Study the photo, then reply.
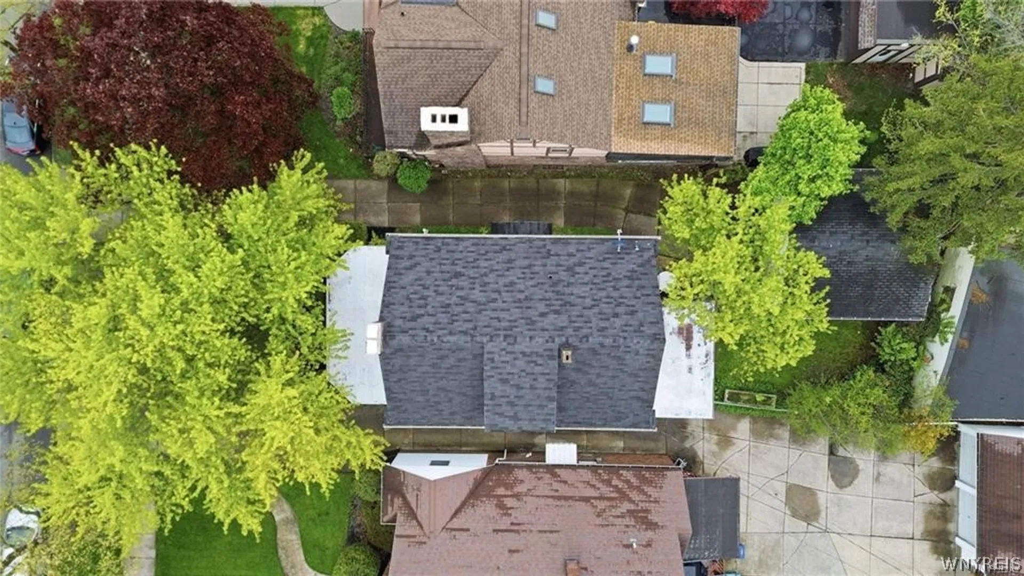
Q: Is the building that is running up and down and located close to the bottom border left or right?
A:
right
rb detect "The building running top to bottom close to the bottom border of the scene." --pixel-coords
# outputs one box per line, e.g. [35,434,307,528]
[958,419,1024,576]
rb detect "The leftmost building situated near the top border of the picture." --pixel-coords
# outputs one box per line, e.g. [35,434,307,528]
[375,0,742,167]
